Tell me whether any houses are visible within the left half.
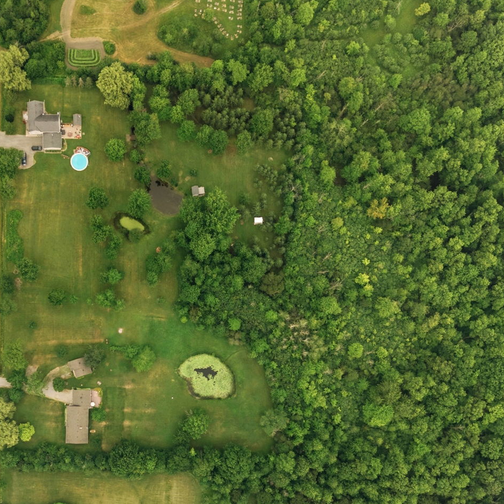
Yes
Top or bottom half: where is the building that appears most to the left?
top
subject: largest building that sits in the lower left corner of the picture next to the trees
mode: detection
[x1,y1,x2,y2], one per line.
[65,388,91,444]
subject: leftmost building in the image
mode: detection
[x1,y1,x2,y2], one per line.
[27,100,63,153]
